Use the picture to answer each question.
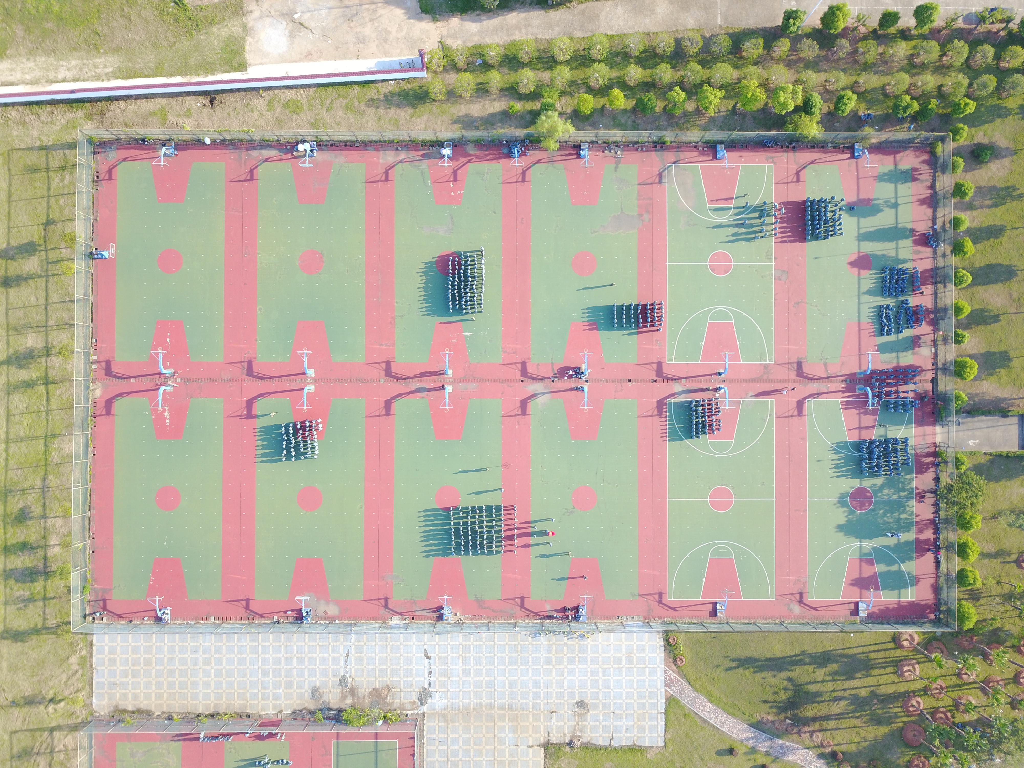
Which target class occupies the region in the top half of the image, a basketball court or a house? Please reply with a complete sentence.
Visible in the top half of the image is a basketball court.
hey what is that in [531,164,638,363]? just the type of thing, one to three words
basketball court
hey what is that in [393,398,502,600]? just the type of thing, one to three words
basketball court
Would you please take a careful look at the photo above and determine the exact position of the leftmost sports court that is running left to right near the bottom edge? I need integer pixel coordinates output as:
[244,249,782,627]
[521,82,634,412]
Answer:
[116,742,181,768]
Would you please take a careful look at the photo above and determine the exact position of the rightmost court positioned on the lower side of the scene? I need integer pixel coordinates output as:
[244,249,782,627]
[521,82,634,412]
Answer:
[807,399,915,600]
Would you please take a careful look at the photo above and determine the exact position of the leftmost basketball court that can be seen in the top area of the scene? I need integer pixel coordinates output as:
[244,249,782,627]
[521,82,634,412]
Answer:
[115,162,225,362]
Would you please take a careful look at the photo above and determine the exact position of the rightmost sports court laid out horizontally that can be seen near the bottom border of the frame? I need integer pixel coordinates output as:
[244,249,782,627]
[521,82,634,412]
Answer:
[332,739,398,768]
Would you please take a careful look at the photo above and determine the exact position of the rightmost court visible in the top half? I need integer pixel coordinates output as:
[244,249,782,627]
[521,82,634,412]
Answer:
[806,165,913,363]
